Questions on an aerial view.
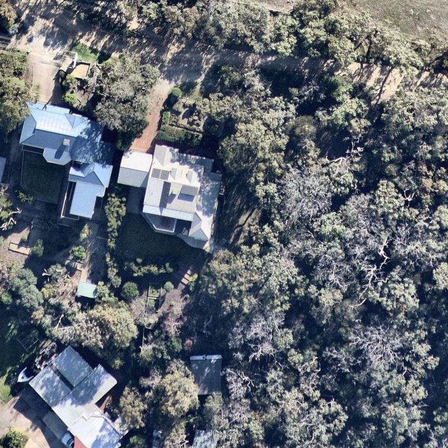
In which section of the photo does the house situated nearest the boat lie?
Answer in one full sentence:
The house situated nearest the boat appears toward the bottom left of the photo.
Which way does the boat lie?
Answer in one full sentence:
In this picture, the boat is oriented diagonally.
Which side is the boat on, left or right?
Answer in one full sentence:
The boat sits on the left side.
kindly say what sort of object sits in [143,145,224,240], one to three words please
house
